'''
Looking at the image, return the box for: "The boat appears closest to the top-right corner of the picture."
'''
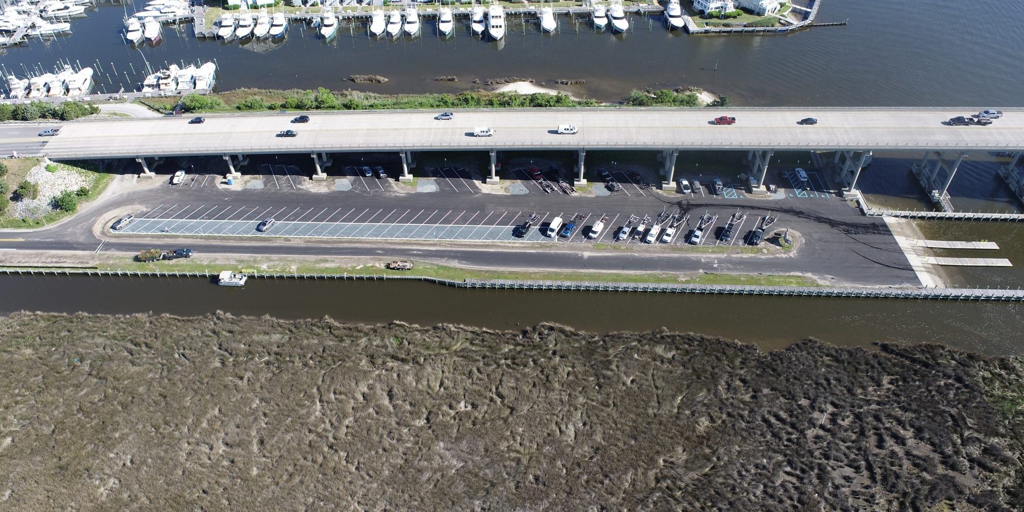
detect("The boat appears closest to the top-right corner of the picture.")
[662,0,684,32]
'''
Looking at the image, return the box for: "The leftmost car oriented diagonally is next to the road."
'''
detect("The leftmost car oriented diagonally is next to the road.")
[111,212,135,230]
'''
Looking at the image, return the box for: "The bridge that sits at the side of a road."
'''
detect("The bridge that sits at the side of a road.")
[33,106,1024,206]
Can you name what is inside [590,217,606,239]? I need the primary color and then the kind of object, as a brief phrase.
white vehicle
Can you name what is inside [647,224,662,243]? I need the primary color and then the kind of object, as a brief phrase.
white car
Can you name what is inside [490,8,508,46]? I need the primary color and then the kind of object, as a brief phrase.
white boat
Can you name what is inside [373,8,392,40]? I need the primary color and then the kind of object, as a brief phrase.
white boat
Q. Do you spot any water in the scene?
Yes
